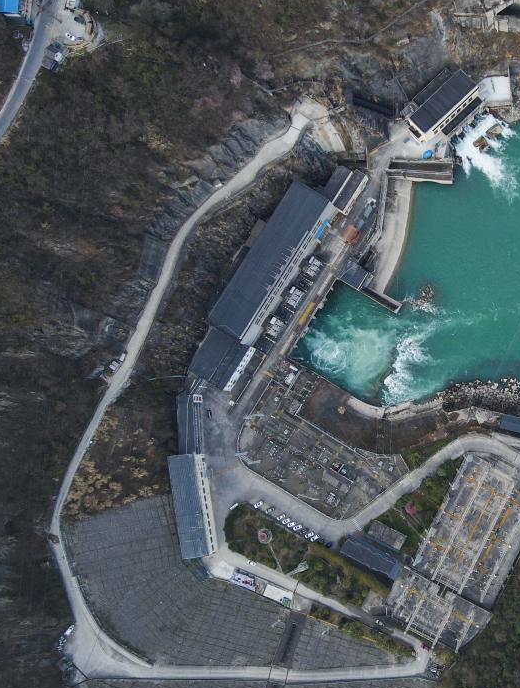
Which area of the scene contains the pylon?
bottom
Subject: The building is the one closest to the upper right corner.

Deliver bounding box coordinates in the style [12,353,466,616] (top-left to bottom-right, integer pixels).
[402,70,481,139]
